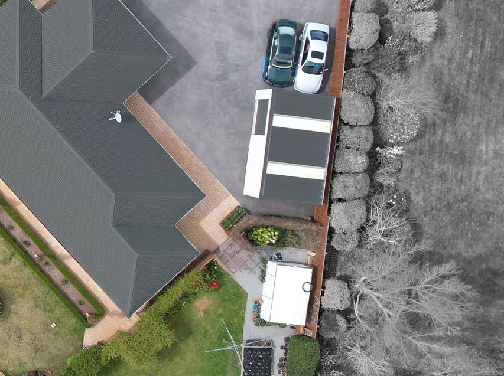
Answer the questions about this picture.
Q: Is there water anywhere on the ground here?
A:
No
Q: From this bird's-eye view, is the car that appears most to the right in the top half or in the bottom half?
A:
top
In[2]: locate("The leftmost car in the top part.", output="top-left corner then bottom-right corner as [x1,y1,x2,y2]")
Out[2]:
[263,19,298,88]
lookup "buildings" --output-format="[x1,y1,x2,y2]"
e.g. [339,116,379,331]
[0,0,209,319]
[246,90,338,204]
[259,263,312,326]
